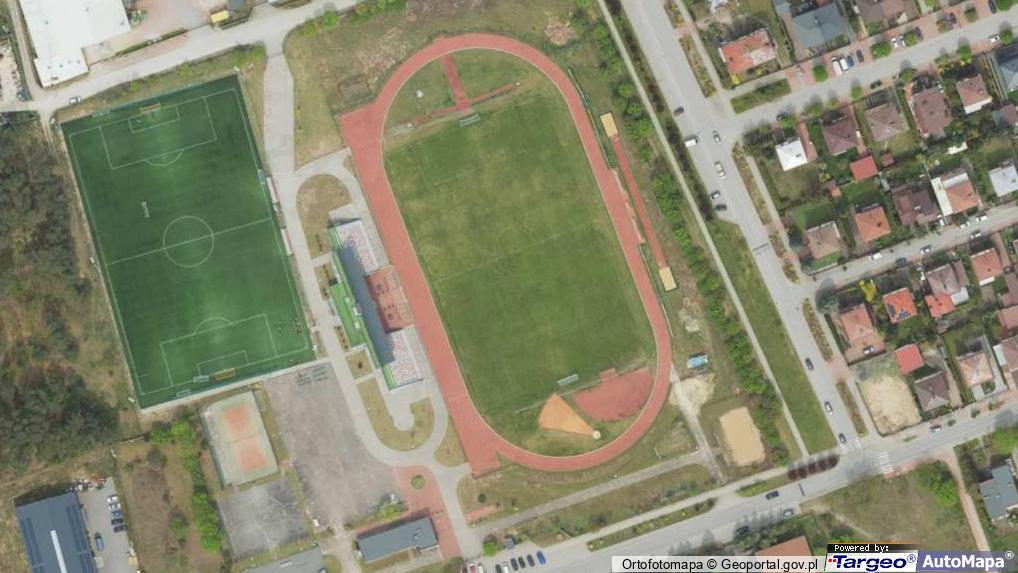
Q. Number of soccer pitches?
2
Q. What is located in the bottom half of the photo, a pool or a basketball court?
basketball court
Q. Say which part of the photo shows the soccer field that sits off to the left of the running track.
left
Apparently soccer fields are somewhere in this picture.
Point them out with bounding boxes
[384,87,650,412]
[61,77,328,414]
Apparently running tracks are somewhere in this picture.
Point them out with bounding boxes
[342,34,669,474]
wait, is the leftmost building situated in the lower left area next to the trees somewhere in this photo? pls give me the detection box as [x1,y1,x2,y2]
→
[12,492,96,573]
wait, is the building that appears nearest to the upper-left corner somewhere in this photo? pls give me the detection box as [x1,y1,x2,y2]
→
[25,0,134,86]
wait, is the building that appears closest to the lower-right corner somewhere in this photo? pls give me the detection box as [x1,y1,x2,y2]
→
[980,466,1018,517]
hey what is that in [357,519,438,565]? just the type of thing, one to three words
building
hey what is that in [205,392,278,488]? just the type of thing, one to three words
tennis court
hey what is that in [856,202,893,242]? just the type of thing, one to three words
house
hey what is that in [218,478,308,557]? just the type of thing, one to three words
basketball court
